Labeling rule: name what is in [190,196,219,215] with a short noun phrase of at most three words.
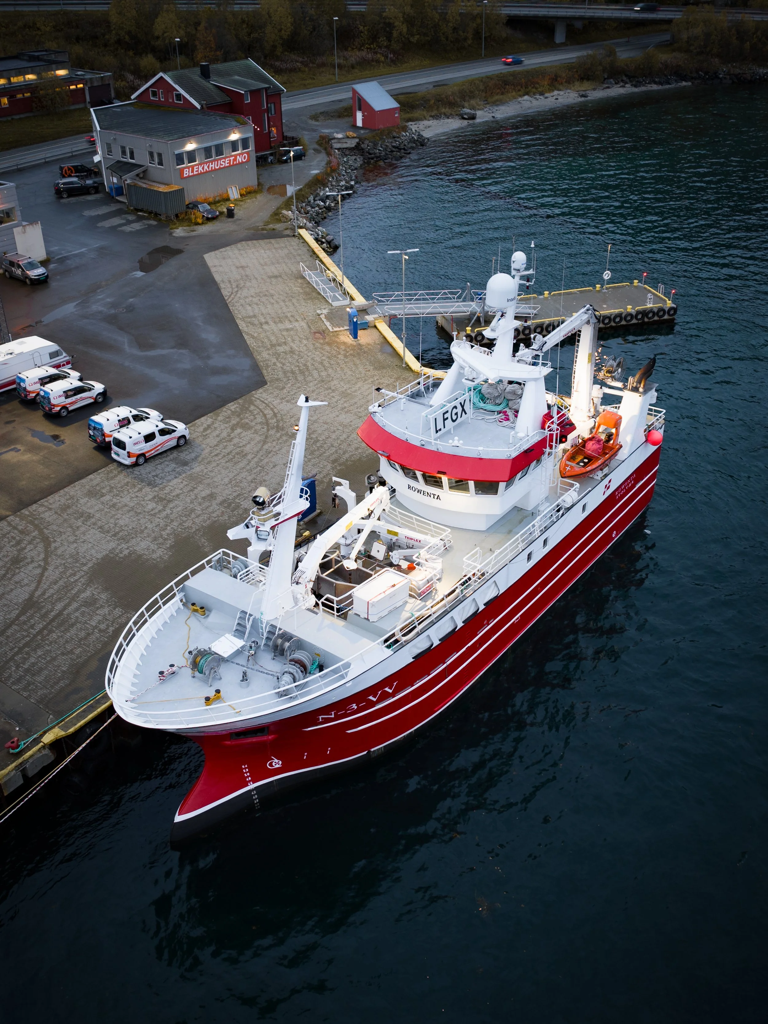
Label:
car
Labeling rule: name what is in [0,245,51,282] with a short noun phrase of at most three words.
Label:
van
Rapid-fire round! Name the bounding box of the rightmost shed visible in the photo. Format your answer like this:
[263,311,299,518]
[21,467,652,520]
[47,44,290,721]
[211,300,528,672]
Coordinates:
[354,80,400,130]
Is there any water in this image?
Yes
